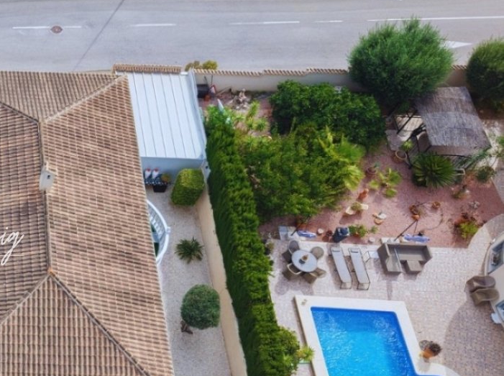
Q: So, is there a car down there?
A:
No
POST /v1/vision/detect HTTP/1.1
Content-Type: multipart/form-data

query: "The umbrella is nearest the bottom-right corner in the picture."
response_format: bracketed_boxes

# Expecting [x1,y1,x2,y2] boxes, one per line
[399,214,430,246]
